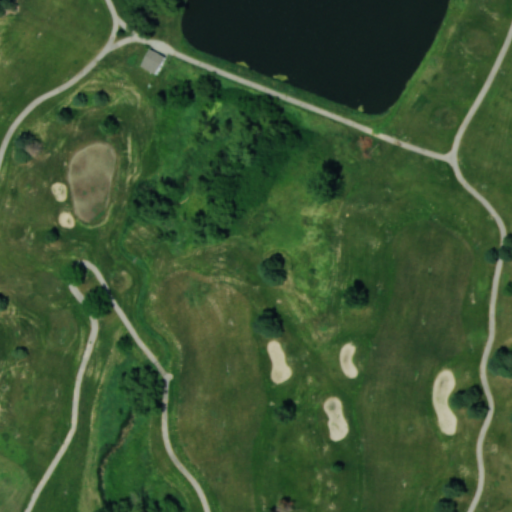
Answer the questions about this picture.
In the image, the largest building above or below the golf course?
above it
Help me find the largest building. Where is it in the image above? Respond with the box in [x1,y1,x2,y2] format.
[140,48,164,74]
